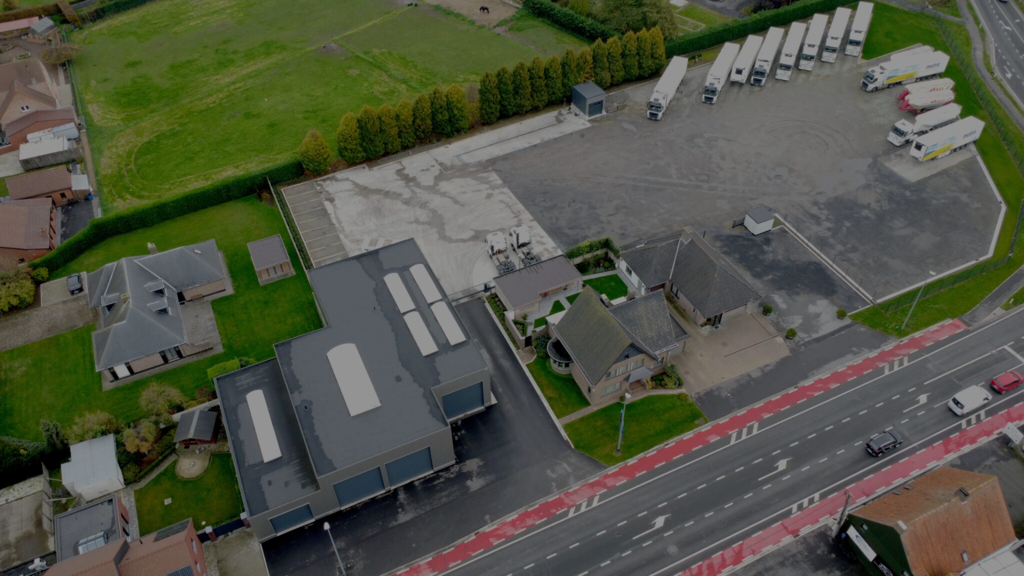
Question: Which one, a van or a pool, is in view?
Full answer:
Looking from above, you can make out a van.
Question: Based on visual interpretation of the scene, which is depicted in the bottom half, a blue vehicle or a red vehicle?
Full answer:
Visible in the bottom half is a red vehicle.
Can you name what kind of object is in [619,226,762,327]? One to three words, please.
house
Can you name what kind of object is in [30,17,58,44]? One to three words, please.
greenhouse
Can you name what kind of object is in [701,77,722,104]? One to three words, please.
truck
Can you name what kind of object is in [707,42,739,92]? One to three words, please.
trailer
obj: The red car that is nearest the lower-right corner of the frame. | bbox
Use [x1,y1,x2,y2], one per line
[991,368,1024,393]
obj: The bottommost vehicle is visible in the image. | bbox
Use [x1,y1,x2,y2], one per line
[866,428,907,456]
